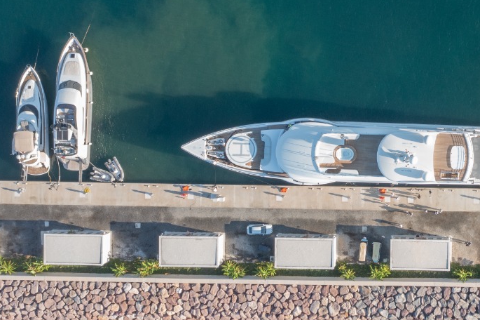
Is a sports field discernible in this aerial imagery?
No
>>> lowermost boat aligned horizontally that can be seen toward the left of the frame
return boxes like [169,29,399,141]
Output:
[85,169,113,182]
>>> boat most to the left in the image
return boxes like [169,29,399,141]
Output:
[11,65,53,174]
